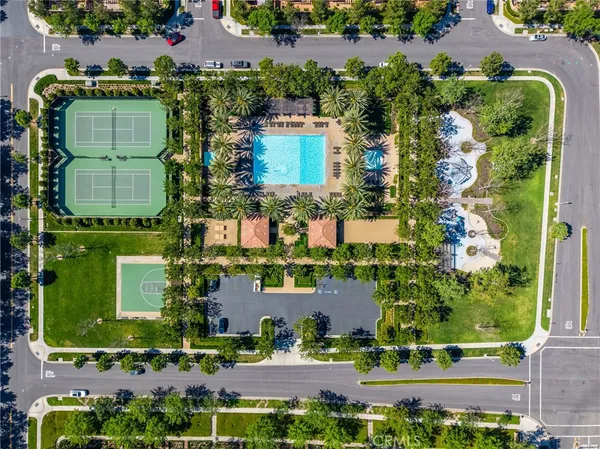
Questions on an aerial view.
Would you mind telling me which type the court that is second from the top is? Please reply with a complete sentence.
The court that is second from the top appears to be a tennis court.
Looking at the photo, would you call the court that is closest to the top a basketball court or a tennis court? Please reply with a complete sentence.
The court that is closest to the top can be classified as a tennis court.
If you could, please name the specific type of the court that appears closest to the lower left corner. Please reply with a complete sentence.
The court that appears closest to the lower left corner is a basketball court.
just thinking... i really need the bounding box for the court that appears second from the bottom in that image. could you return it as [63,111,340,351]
[56,157,167,216]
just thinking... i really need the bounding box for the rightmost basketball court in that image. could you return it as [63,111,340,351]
[116,256,171,319]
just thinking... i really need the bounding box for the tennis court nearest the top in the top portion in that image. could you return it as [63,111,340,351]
[56,100,167,157]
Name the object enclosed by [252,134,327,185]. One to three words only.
swimming pool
